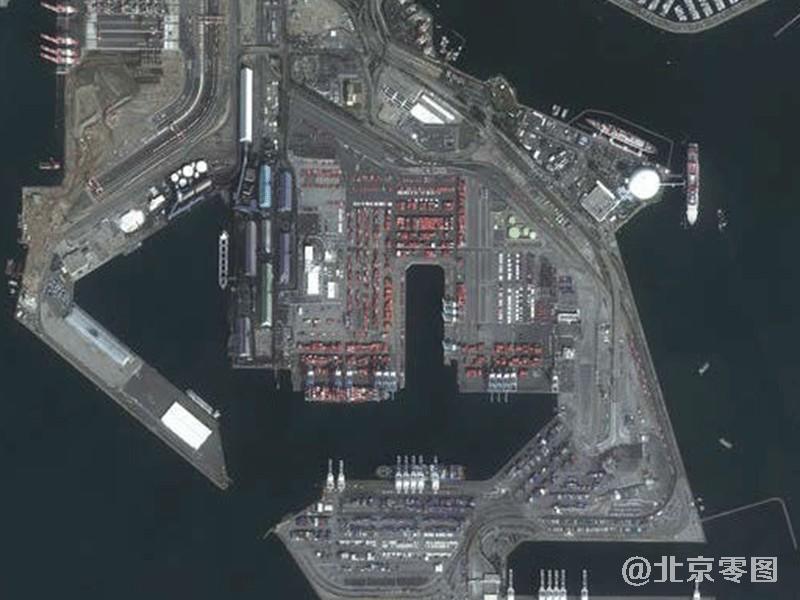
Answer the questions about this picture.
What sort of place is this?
port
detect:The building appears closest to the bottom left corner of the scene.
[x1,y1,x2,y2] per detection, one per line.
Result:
[163,402,212,451]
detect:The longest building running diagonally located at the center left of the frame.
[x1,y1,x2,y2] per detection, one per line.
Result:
[66,308,131,364]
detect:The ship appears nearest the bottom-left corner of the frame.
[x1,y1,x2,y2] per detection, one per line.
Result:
[186,390,217,416]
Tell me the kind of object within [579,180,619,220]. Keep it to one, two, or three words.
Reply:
building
